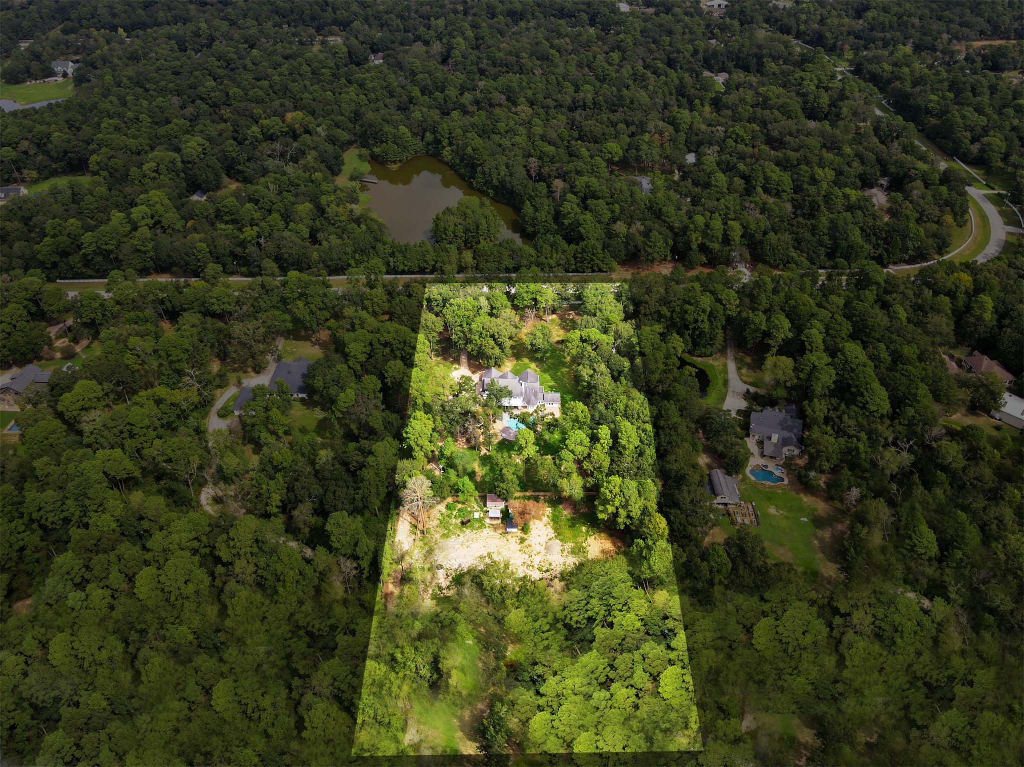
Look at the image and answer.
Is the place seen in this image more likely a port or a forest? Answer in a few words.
forest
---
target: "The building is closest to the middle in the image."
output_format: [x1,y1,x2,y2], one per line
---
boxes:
[477,366,562,414]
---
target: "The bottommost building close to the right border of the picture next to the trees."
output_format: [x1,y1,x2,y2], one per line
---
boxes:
[991,387,1024,430]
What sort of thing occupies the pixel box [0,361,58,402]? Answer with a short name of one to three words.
house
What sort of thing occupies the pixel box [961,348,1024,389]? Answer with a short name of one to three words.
house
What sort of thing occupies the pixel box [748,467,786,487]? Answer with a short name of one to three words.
swimming pool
